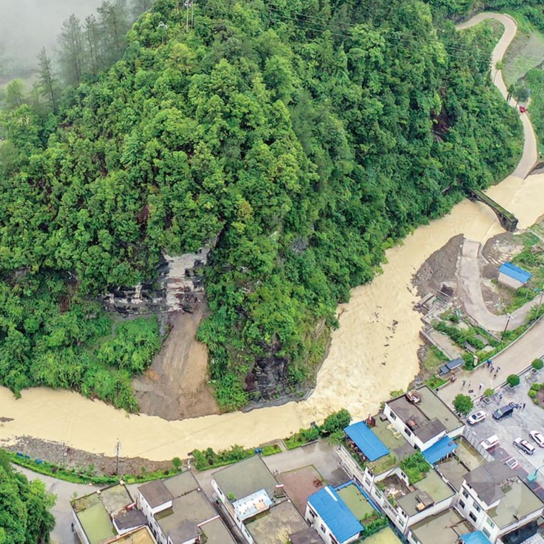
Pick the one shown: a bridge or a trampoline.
bridge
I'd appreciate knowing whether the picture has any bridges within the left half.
No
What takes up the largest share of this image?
trees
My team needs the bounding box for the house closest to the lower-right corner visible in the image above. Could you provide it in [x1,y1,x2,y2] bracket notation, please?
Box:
[456,462,544,544]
